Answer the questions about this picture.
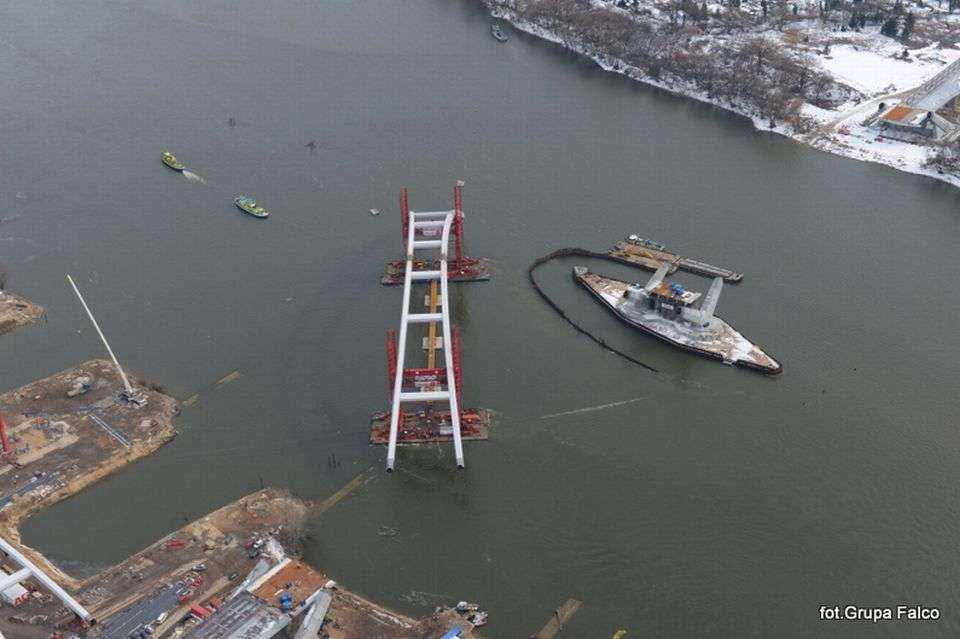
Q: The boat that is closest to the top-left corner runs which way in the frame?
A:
on a diagonal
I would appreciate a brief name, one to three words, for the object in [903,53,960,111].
bridge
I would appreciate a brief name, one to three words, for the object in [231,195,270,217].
boat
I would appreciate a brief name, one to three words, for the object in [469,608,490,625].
boat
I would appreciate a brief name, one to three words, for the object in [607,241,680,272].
ship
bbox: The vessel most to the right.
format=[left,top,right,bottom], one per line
[673,257,743,284]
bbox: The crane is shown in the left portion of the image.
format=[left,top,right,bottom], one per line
[65,273,151,407]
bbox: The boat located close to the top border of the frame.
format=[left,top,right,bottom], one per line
[489,22,508,41]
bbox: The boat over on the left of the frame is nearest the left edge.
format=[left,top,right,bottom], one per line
[160,149,188,171]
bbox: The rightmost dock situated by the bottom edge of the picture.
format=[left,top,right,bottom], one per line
[532,597,583,639]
